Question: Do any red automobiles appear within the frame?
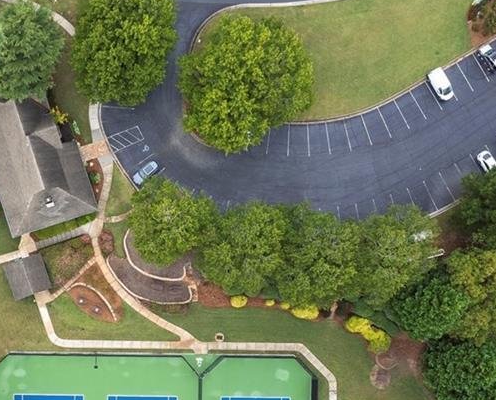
No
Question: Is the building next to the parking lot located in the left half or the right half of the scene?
left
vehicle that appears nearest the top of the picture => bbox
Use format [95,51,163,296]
[477,40,496,74]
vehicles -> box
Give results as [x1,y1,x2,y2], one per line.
[474,147,496,175]
[477,40,496,74]
[131,158,162,186]
[427,64,453,101]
